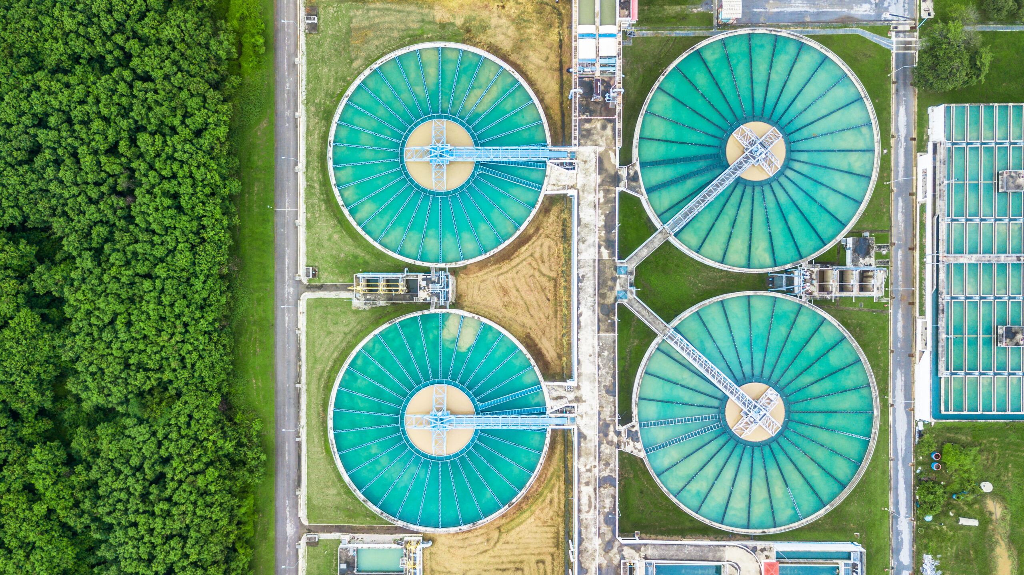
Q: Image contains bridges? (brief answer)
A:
Yes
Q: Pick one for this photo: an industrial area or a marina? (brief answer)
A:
industrial area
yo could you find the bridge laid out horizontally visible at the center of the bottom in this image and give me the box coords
[403,386,568,459]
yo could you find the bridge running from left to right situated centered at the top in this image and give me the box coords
[403,117,568,190]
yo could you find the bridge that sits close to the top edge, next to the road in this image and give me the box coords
[889,22,928,54]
